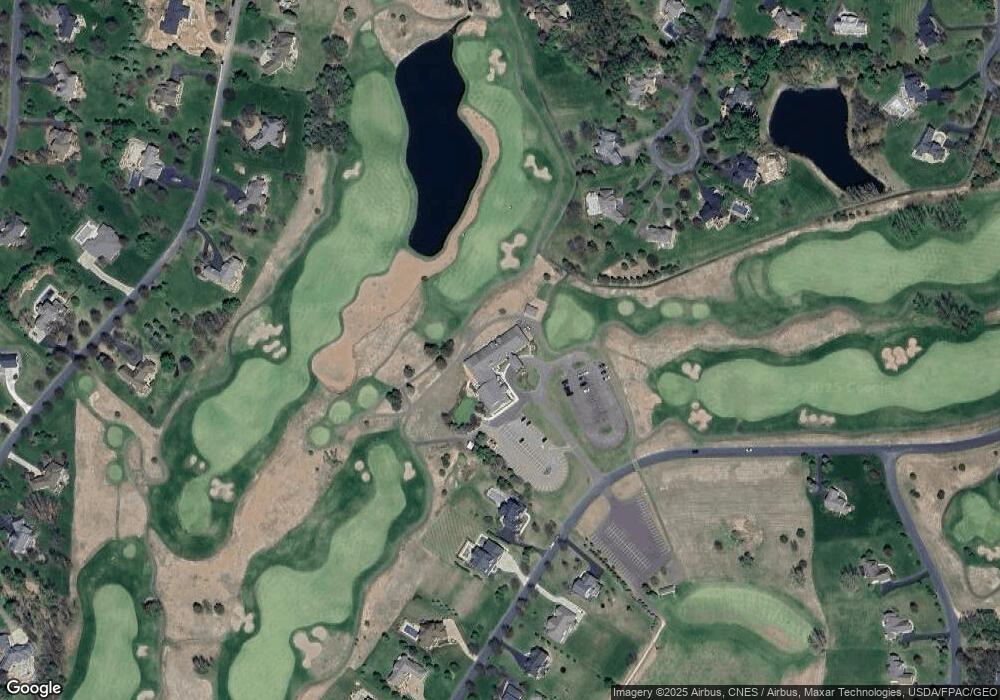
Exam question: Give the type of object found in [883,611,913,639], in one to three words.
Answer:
house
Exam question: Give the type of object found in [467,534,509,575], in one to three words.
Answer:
house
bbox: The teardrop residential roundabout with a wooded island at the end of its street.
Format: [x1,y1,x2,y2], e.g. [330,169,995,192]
[652,97,696,171]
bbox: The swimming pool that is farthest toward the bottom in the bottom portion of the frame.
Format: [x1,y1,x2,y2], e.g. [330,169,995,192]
[400,621,420,638]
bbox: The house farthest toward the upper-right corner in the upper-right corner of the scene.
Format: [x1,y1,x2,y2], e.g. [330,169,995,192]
[915,16,942,55]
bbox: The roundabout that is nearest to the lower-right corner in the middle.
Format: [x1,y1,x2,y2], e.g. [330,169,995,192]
[510,360,542,393]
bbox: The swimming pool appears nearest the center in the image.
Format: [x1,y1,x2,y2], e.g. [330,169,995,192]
[460,540,475,559]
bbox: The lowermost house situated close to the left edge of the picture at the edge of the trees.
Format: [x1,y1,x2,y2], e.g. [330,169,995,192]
[0,632,33,689]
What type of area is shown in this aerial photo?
golf course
